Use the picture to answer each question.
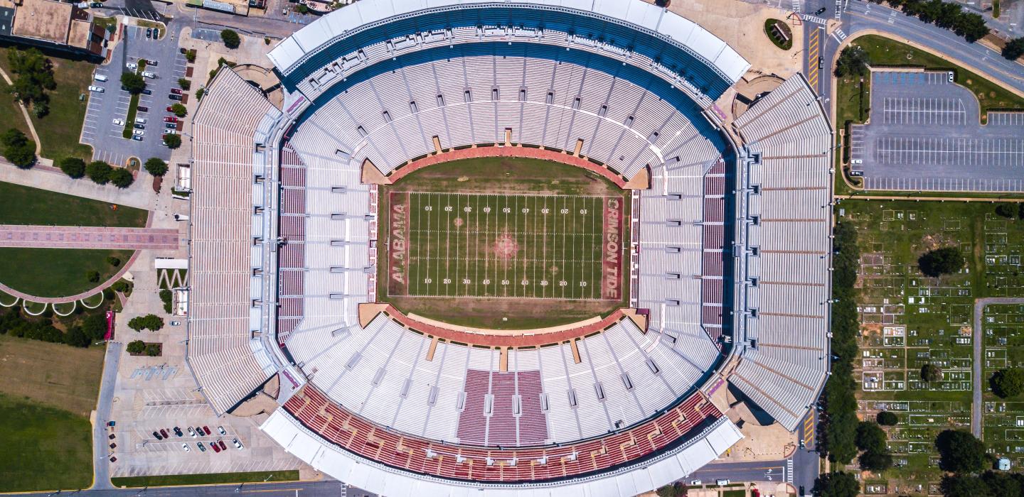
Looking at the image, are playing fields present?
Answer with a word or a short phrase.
Yes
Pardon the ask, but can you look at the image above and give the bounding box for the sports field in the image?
[378,156,631,331]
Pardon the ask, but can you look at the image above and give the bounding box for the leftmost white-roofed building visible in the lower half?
[171,286,187,316]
